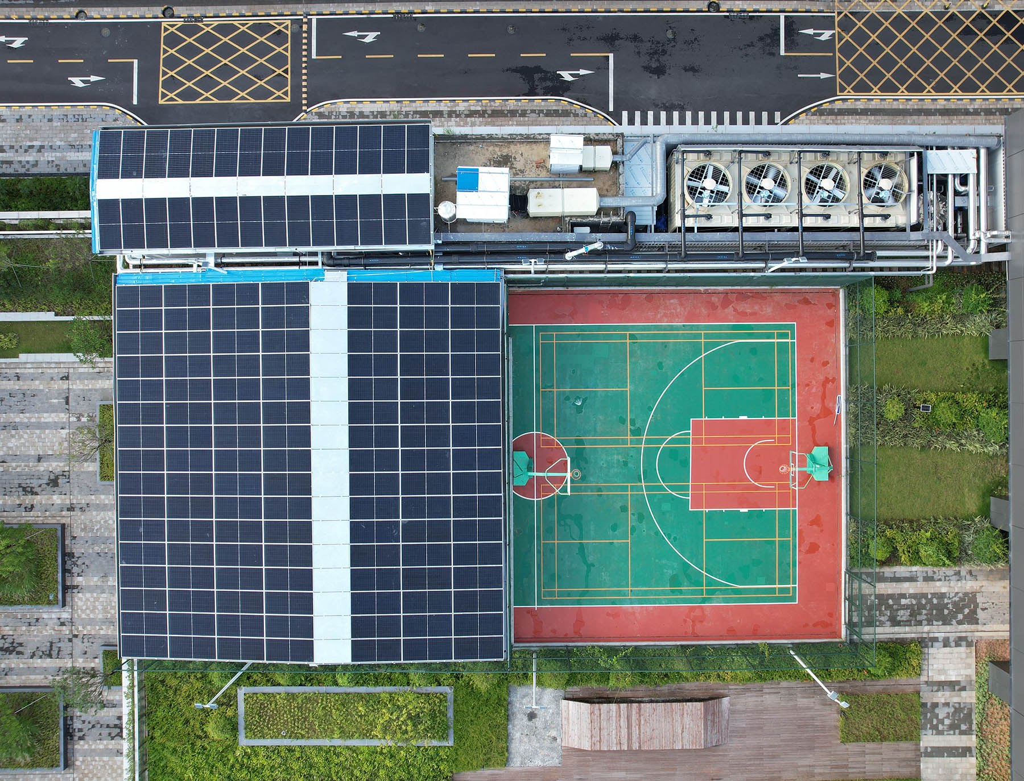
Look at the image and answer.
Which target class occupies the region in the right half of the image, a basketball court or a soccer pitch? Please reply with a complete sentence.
It is a basketball court that can be seen in the right half of the image.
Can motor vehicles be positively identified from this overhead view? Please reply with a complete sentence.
No, there appears to be no motor vehicle in this shot.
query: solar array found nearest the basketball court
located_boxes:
[348,282,504,663]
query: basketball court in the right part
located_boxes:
[502,288,849,649]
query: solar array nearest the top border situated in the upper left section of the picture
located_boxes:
[97,125,431,179]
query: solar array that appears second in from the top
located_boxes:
[97,193,432,250]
